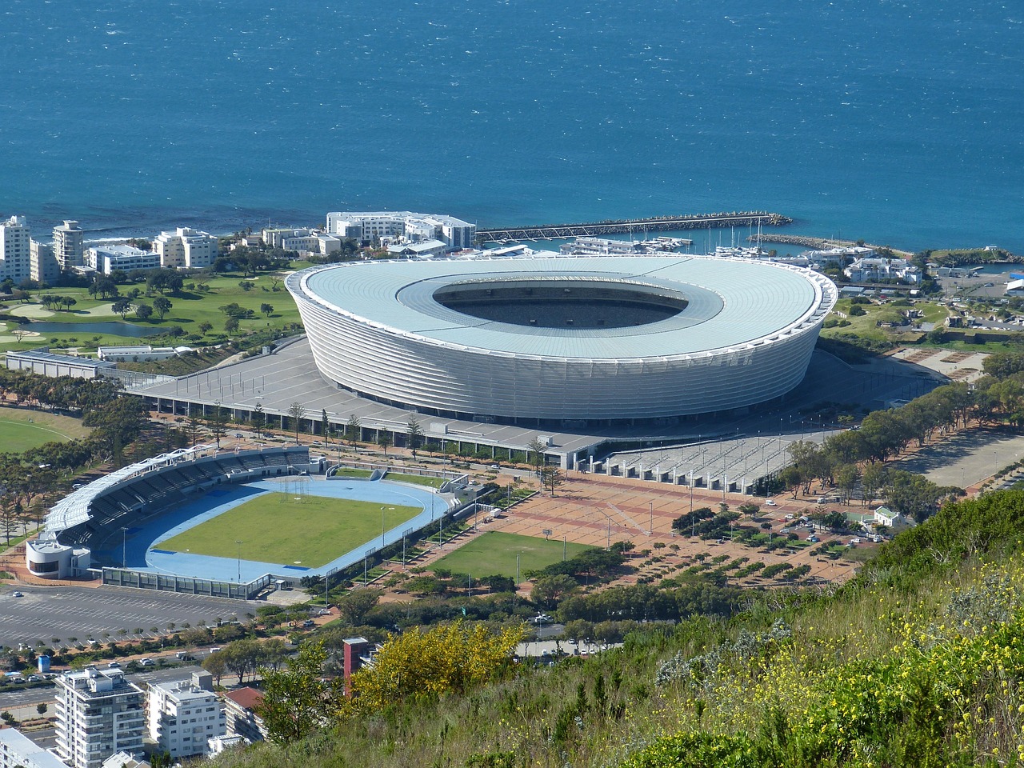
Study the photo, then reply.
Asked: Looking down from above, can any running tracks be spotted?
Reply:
Yes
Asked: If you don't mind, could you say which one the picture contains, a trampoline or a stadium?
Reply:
stadium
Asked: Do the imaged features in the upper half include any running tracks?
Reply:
No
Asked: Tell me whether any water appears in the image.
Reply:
Yes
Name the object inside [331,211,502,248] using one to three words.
building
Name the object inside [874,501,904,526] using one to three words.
house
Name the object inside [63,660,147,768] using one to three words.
building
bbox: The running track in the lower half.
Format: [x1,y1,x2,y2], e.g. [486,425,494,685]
[94,477,459,589]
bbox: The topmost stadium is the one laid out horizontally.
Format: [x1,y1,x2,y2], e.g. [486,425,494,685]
[284,254,839,429]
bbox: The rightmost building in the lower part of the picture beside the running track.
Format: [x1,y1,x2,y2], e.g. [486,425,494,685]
[454,484,481,501]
